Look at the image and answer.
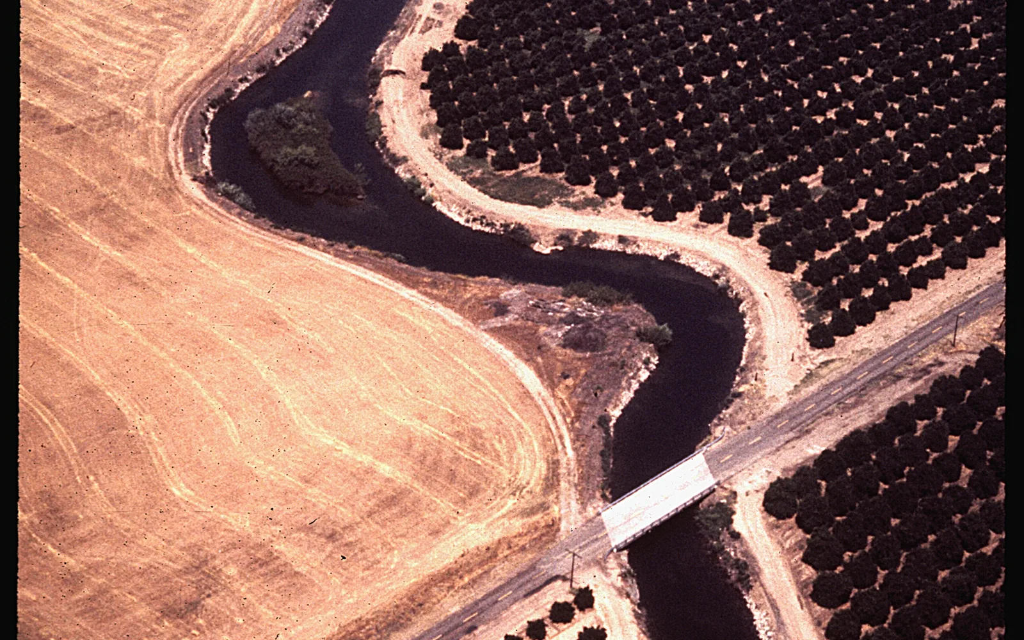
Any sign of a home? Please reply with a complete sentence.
No, there is no home in the image.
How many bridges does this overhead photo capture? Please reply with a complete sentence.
The picture shows 1 bridge.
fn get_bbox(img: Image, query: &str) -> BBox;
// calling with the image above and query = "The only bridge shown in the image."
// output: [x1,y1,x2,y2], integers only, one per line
[601,450,717,553]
